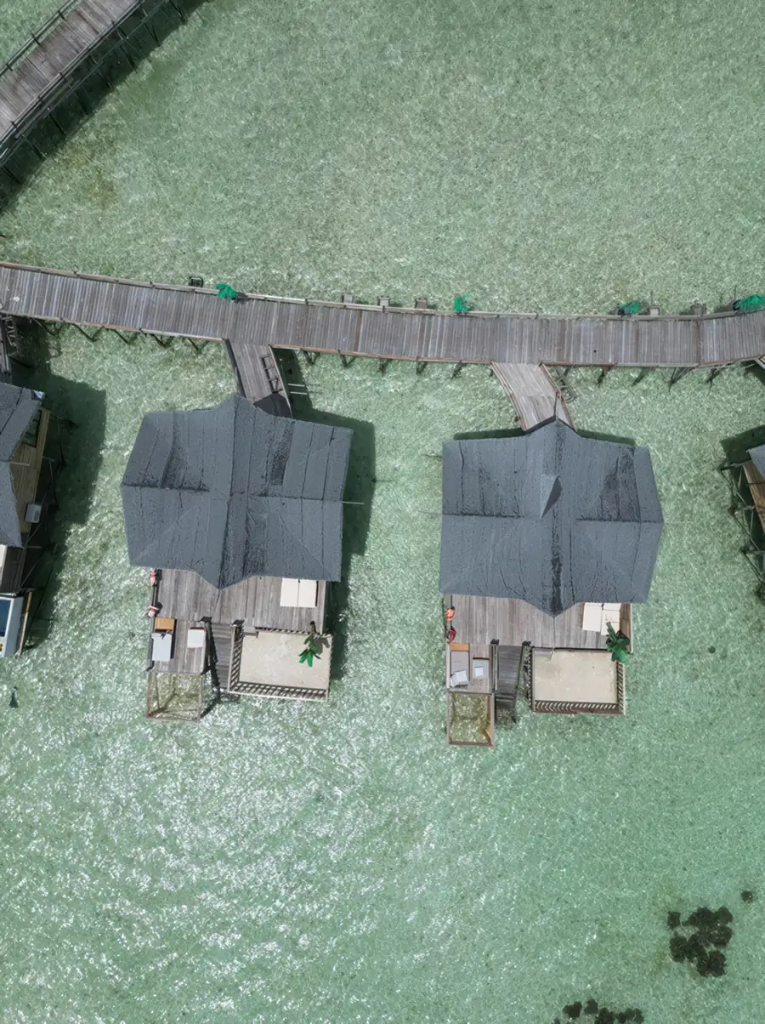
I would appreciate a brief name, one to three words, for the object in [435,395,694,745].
house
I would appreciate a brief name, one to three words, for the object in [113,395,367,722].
house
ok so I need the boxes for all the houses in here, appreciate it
[711,442,765,611]
[0,391,72,663]
[113,395,367,722]
[435,395,694,745]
